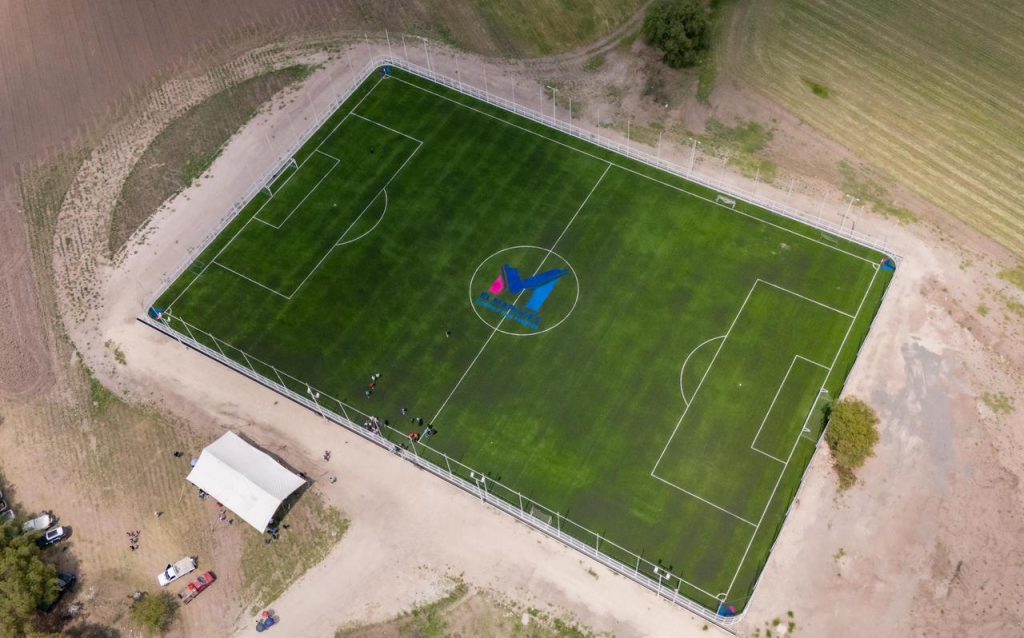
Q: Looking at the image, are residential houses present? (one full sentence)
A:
No, the picture doesn't show any residential house.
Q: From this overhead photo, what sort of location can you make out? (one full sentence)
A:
It's a sports ground.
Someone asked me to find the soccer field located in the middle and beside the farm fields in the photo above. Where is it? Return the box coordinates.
[151,66,895,615]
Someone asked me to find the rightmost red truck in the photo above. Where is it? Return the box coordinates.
[177,571,218,607]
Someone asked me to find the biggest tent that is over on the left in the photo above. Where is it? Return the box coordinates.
[181,429,325,553]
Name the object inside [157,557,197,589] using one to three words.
truck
